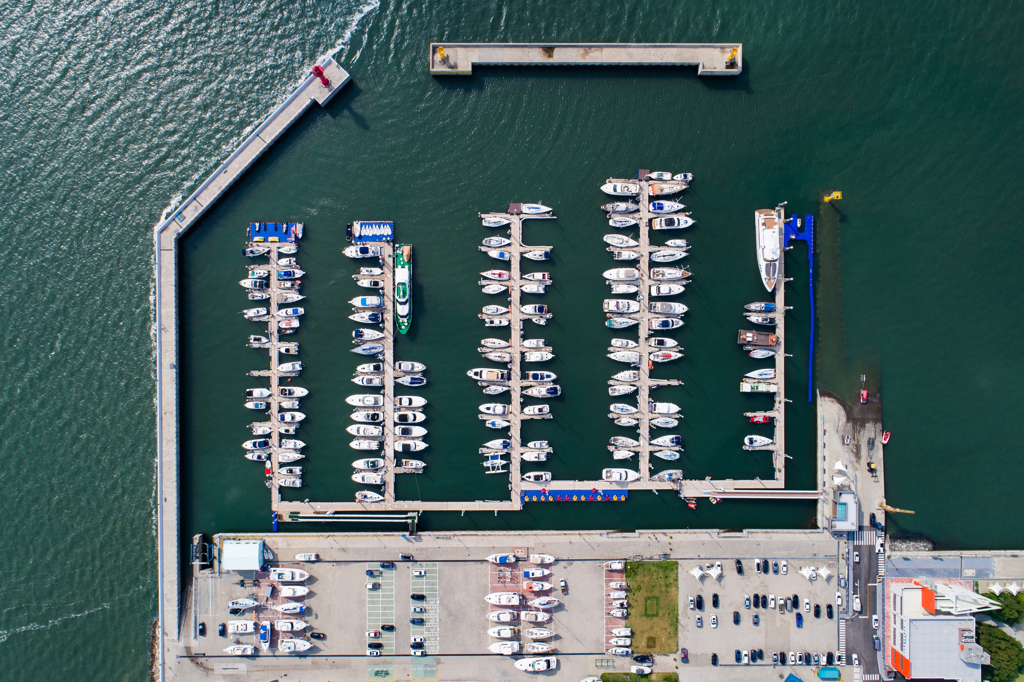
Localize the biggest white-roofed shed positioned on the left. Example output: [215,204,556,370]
[219,541,263,570]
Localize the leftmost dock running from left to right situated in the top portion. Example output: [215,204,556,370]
[250,222,298,242]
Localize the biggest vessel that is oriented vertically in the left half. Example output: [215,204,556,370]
[389,243,412,334]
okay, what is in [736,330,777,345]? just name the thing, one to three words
ship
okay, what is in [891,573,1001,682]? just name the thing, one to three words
building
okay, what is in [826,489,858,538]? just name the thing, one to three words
building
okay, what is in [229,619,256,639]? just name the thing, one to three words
boat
